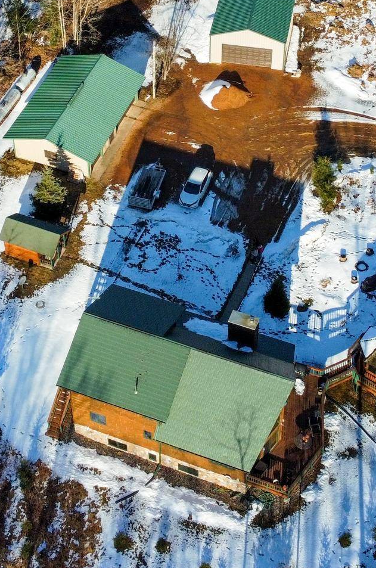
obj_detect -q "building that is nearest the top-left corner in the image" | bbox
[2,54,146,178]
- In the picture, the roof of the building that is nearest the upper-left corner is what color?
green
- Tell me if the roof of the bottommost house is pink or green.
green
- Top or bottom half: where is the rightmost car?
top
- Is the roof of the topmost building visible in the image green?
Yes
